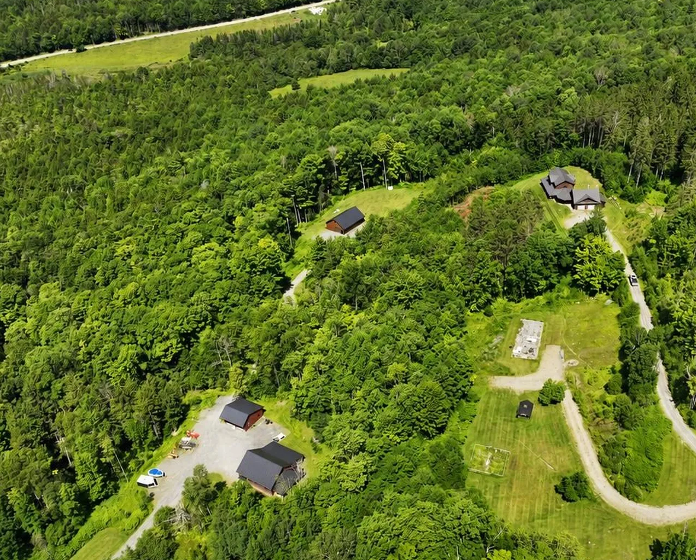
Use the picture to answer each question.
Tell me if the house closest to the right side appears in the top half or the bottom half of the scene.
top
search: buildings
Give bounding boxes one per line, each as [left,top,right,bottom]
[518,401,532,423]
[327,207,365,236]
[236,441,305,497]
[540,172,607,210]
[218,399,265,436]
